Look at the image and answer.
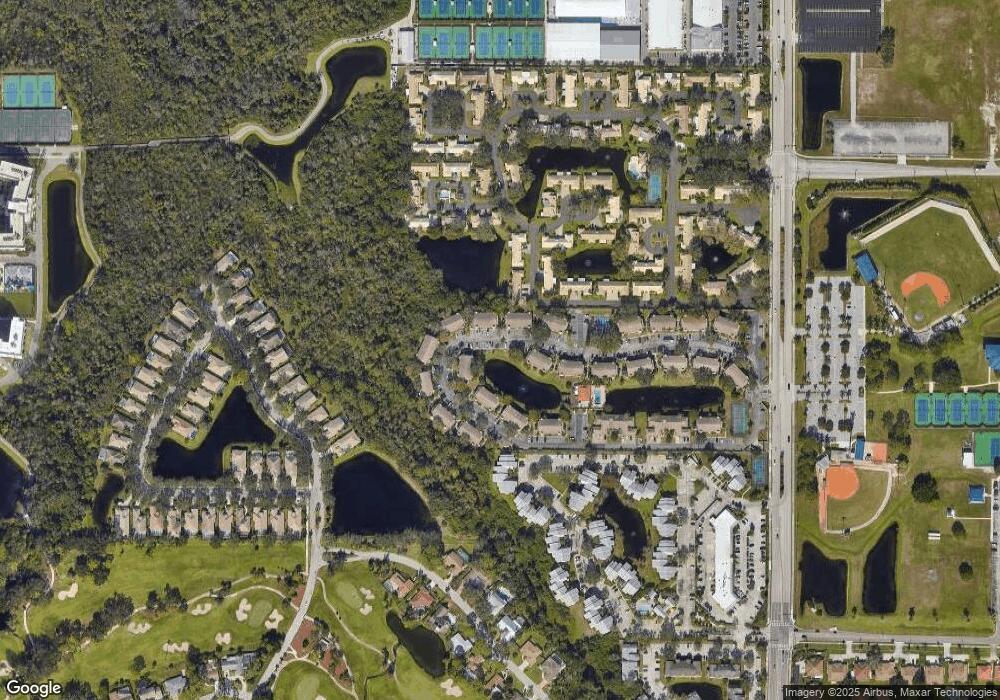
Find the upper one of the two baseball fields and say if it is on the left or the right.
right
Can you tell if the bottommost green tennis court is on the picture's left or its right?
right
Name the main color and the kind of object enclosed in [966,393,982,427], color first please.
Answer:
green tennis court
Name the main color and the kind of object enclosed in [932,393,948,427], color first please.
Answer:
green tennis court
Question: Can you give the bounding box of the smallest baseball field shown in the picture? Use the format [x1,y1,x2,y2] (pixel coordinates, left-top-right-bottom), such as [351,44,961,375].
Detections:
[826,466,892,534]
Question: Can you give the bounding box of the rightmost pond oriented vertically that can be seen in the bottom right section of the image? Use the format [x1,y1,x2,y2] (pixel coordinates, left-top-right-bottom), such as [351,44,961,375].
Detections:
[861,525,897,614]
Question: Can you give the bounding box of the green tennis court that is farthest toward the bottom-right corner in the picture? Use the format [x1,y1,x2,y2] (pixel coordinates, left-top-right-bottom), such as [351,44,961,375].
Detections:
[976,432,1000,466]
